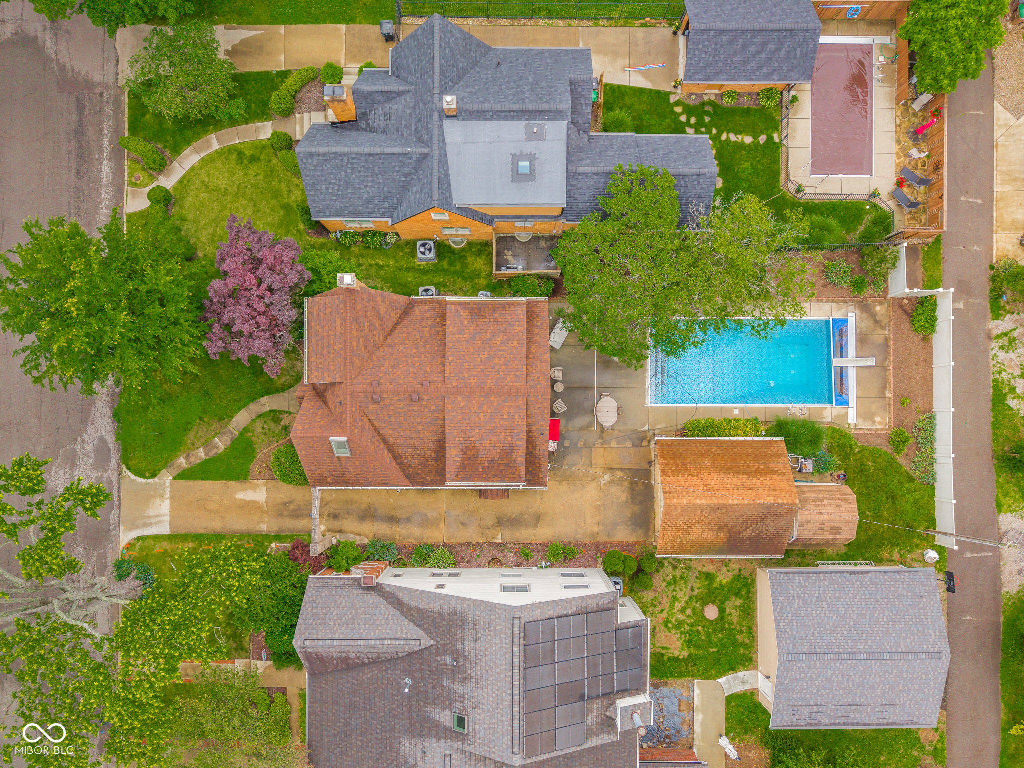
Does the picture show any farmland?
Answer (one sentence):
No, there's no farmland in this view.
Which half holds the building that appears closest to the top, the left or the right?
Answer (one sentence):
The building that appears closest to the top appears in the right half of the scene.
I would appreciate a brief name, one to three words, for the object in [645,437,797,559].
building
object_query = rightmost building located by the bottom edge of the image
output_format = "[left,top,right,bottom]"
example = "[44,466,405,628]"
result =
[755,563,957,731]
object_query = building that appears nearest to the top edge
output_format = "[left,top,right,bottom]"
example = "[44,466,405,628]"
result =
[678,0,825,105]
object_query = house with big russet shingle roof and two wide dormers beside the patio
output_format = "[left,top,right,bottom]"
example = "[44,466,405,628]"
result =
[294,273,553,499]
